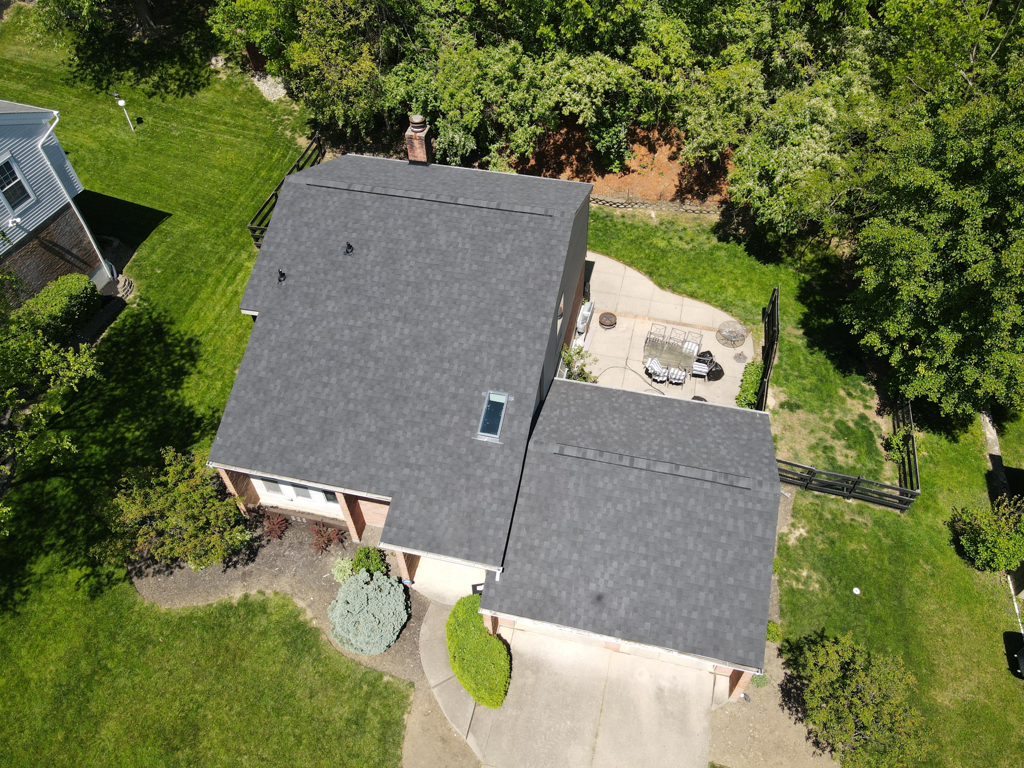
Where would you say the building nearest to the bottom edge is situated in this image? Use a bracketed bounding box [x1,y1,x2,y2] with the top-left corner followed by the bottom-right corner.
[476,375,783,702]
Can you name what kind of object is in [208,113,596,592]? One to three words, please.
house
